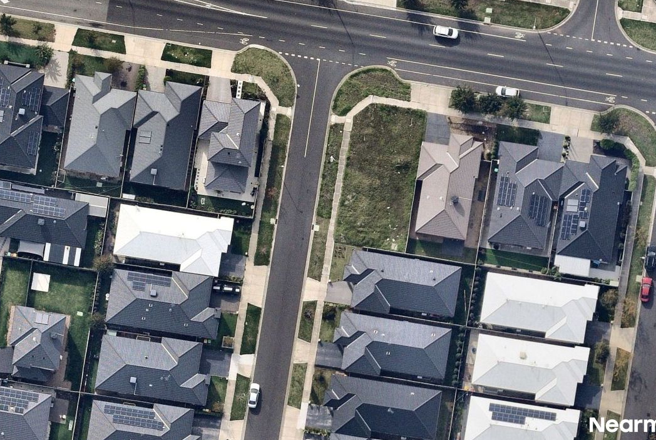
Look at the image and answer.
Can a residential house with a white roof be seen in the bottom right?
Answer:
Yes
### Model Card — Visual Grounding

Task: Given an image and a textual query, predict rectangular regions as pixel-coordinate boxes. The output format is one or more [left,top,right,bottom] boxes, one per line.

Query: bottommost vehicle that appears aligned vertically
[249,383,262,408]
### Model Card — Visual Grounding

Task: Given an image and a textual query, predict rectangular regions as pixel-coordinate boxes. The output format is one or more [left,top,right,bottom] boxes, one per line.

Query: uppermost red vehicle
[641,277,654,303]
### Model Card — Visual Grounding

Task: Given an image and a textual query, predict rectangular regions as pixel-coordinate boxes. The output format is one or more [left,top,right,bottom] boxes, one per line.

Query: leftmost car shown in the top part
[432,25,459,39]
